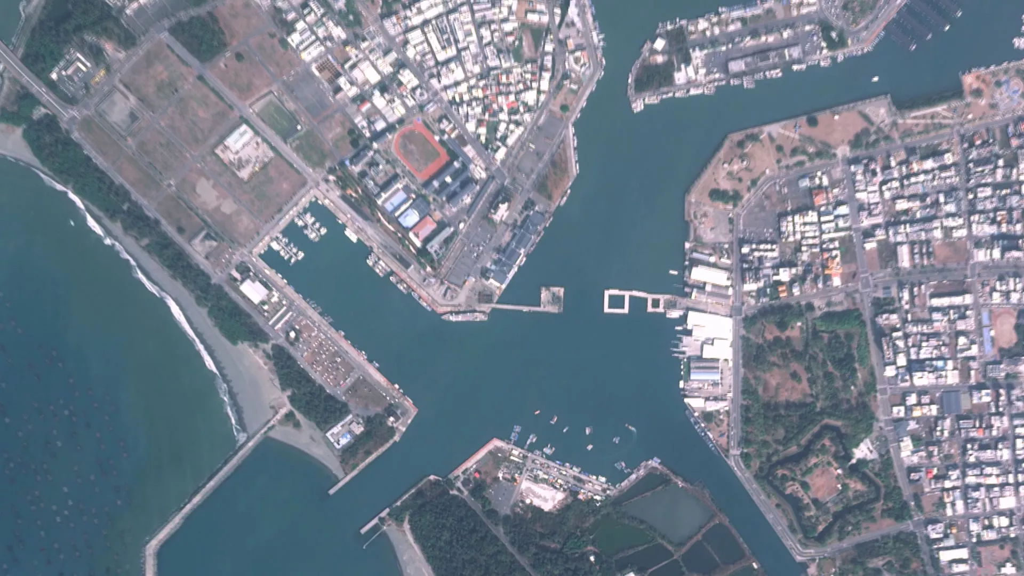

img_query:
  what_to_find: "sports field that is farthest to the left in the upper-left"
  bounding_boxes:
[248,90,303,142]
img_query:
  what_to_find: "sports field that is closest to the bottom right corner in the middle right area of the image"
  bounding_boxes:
[992,308,1018,355]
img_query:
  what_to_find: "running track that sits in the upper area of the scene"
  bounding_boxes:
[394,117,449,181]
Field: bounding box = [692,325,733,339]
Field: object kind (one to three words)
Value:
shed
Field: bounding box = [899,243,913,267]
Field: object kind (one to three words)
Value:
building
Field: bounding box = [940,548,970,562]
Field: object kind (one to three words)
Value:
building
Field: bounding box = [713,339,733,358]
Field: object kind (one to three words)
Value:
shed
